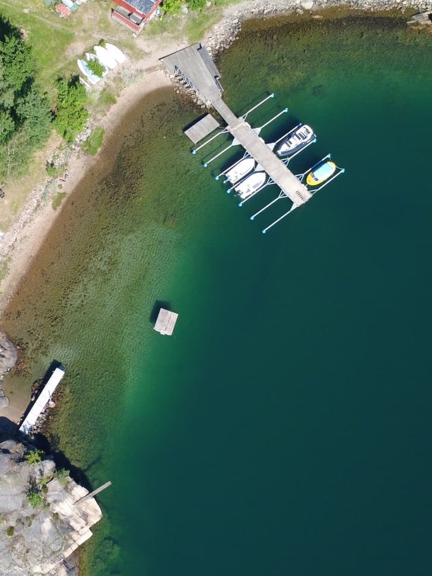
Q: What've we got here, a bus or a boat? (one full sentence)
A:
Looking from above, you can make out a boat.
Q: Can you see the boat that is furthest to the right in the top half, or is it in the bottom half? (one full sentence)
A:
The top half of the photo is where the boat that is furthest to the right is.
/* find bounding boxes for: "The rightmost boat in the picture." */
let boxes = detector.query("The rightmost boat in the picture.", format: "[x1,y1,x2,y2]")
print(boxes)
[308,159,340,185]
